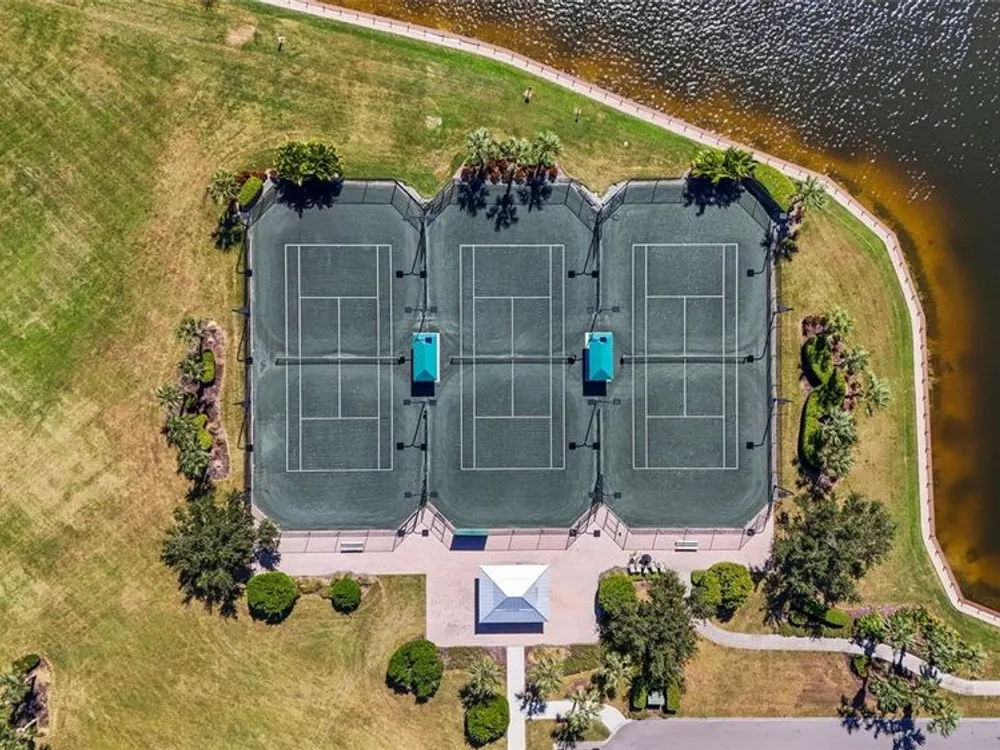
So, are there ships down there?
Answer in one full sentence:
No, the photo shows no ship.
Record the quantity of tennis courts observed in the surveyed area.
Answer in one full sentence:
I count 3 tennis courts.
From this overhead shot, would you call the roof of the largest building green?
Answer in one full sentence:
No, the roof of the largest building is actually white.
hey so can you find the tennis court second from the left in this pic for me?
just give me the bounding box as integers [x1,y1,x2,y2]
[425,183,600,532]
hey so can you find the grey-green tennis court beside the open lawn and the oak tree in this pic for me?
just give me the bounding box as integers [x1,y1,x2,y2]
[248,183,426,532]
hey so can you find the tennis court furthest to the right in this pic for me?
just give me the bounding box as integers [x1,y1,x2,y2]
[598,183,777,532]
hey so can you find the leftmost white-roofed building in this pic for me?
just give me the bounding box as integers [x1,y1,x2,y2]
[478,564,550,623]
